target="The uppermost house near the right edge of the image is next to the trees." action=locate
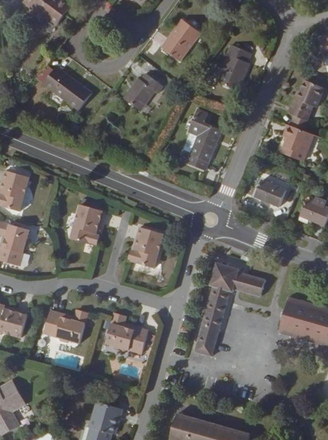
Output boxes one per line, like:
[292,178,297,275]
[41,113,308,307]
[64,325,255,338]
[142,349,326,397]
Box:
[288,79,323,126]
